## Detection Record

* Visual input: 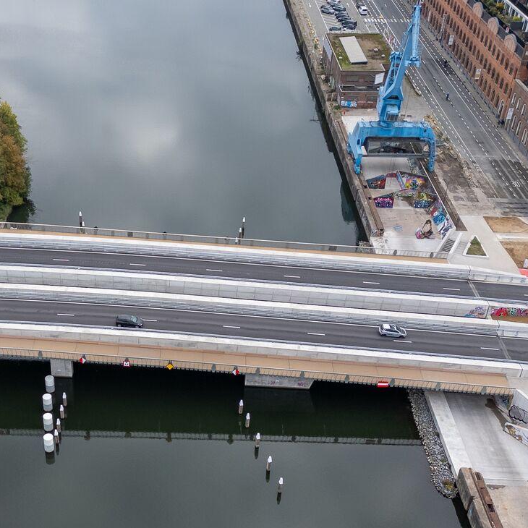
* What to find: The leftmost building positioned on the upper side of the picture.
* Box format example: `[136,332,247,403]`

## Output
[321,31,387,107]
